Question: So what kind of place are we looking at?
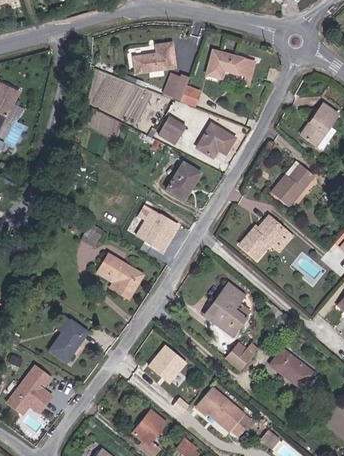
residential area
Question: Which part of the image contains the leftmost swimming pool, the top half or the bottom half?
top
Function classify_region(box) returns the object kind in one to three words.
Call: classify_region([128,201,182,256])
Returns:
house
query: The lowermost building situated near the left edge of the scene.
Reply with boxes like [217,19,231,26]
[6,364,55,414]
